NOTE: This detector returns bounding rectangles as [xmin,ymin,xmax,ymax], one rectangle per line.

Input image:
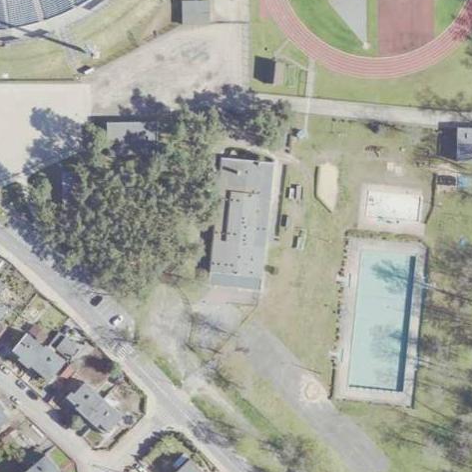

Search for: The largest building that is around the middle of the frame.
[211,158,274,289]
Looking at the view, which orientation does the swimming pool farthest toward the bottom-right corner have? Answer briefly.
up and down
